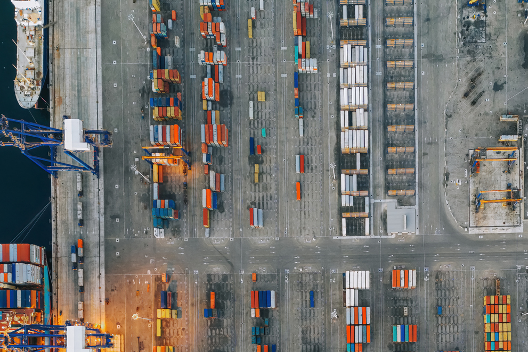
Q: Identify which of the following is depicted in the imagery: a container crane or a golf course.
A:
container crane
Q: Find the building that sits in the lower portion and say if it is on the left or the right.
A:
right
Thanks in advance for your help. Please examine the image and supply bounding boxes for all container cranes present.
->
[473,145,519,171]
[140,143,189,169]
[0,117,116,182]
[0,322,118,352]
[477,186,523,213]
